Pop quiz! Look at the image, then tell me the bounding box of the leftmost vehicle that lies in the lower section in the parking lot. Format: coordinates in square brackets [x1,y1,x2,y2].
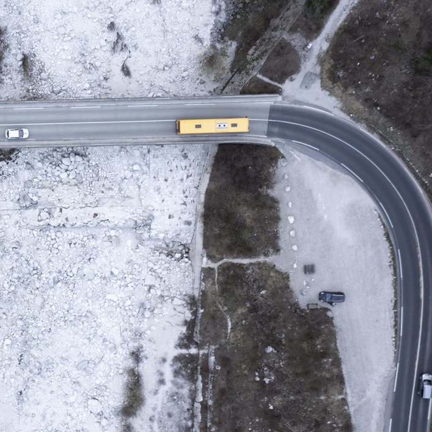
[316,291,345,306]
